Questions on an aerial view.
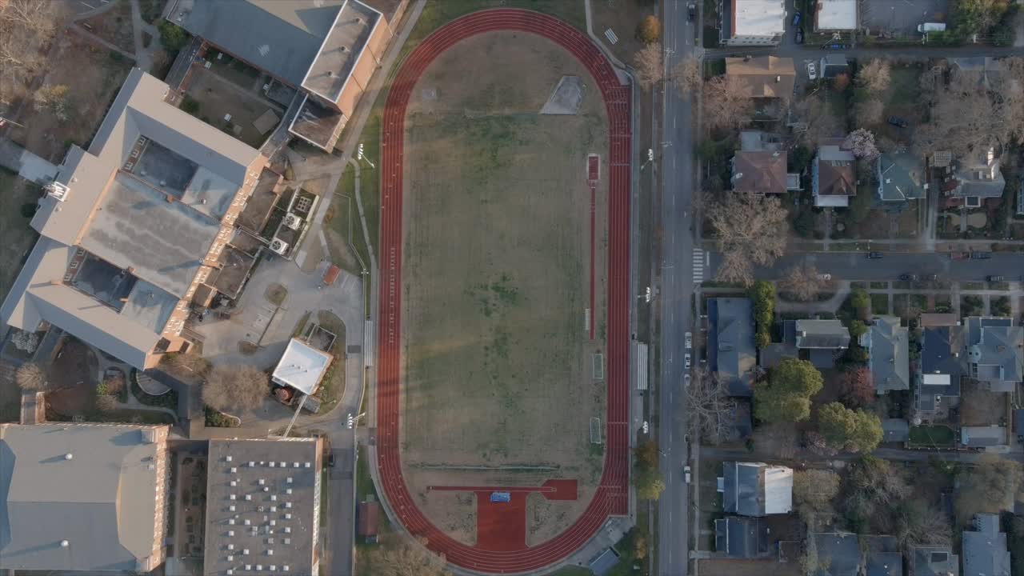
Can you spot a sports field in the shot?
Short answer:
Yes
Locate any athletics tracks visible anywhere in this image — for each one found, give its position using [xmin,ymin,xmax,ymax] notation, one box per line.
[375,11,633,576]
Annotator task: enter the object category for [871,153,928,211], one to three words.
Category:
house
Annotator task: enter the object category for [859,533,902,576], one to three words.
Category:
house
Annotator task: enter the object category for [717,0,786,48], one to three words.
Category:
building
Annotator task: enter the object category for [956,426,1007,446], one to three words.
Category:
building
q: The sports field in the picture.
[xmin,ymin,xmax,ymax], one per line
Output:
[401,36,607,550]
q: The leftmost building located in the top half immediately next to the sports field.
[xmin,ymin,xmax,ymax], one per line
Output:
[0,67,286,371]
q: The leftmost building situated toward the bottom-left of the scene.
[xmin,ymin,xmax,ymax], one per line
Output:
[0,421,183,573]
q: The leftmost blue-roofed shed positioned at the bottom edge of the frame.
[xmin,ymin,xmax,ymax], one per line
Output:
[588,545,620,576]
